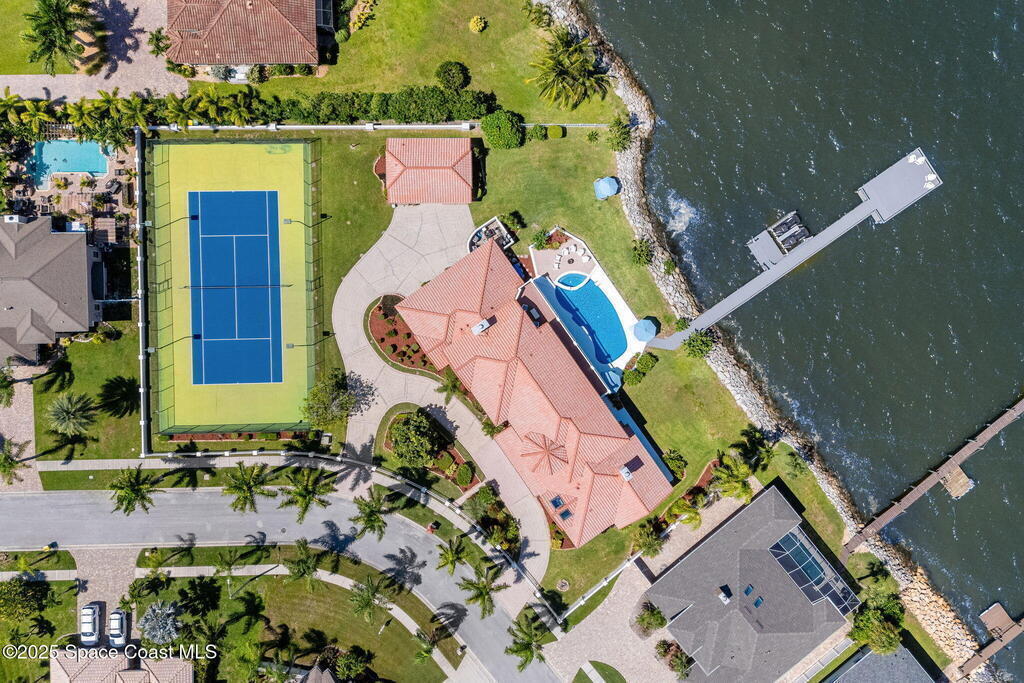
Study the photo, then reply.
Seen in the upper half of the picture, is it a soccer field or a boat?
boat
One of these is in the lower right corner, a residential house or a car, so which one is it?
residential house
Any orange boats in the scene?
No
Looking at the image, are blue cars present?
No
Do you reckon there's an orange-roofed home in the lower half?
No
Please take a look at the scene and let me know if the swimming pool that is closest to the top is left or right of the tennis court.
to its left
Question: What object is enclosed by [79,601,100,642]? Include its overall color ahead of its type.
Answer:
white car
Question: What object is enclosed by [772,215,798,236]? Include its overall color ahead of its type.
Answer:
gray boat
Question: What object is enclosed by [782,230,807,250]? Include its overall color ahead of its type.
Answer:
gray boat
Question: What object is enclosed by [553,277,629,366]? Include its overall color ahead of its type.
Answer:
blue swimming pool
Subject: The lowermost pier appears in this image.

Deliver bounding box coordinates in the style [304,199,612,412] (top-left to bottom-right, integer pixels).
[957,599,1024,675]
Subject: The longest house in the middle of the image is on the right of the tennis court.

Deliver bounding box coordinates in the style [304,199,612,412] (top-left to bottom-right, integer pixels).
[394,238,676,549]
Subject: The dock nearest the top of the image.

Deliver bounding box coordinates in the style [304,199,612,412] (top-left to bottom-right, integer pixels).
[670,145,944,343]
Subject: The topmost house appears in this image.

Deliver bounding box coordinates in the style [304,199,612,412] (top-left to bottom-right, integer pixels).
[163,0,320,72]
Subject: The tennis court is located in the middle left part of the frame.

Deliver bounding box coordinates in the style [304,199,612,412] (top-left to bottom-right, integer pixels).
[155,144,314,433]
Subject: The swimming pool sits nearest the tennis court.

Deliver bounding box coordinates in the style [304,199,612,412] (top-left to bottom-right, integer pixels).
[27,138,111,193]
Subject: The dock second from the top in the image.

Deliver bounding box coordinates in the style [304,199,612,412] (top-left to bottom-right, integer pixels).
[841,401,1024,554]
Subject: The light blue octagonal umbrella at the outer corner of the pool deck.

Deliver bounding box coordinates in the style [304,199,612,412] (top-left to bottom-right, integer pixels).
[633,318,656,340]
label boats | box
[772,215,798,236]
[782,230,807,250]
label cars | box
[108,604,127,642]
[79,601,100,642]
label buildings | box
[163,0,320,72]
[394,238,676,549]
[646,485,846,683]
[385,137,473,204]
[307,664,341,683]
[0,213,138,366]
[49,644,199,683]
[822,645,934,683]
